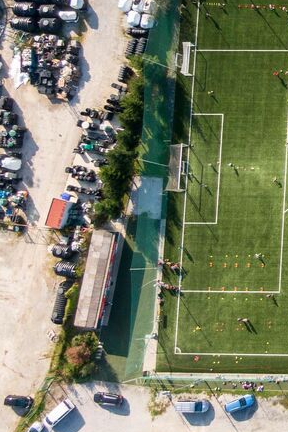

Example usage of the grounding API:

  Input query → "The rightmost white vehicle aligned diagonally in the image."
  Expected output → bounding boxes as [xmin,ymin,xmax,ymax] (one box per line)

[43,398,80,427]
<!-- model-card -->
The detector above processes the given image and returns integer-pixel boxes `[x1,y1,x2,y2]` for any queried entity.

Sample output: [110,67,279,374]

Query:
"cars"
[92,391,125,407]
[174,400,212,416]
[223,394,257,414]
[26,420,46,432]
[43,398,80,427]
[4,395,35,409]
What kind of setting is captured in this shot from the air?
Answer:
sports ground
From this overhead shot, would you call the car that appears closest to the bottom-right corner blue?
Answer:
Yes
